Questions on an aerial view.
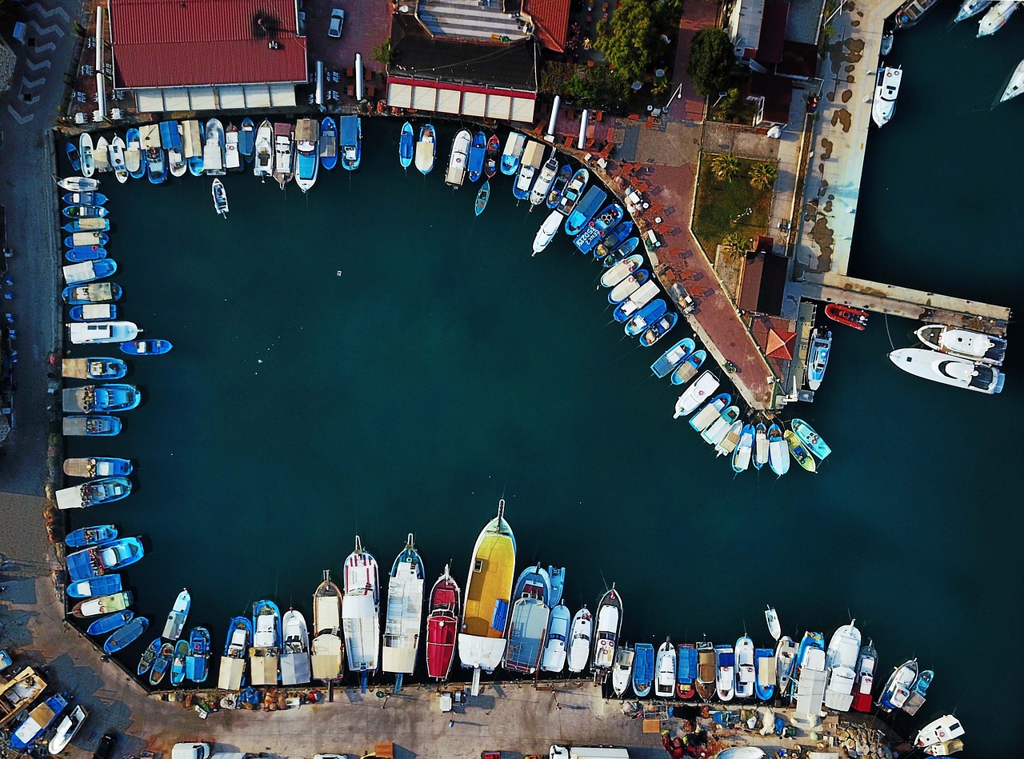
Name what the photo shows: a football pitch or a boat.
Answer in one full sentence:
The image shows a boat.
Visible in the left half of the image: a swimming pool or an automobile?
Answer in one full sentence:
Visible in the left half of the image is an automobile.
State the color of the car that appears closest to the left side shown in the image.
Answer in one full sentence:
In this view, the car that appears closest to the left side is black.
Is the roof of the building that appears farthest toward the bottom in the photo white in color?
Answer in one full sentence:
No, from above the roof of the building that appears farthest toward the bottom looks red.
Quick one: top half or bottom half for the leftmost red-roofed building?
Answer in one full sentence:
The leftmost red-roofed building is in the top half of the image.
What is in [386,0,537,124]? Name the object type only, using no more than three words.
building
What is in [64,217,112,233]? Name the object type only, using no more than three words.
boat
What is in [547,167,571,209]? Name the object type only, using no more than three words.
boat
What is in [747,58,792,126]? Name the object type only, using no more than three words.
building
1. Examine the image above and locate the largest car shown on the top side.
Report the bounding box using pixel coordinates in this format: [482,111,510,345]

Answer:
[327,5,345,36]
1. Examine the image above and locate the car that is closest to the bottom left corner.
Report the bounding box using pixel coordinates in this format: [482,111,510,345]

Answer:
[93,736,114,759]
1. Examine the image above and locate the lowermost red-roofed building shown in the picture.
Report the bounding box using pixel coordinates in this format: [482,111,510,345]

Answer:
[762,328,797,360]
